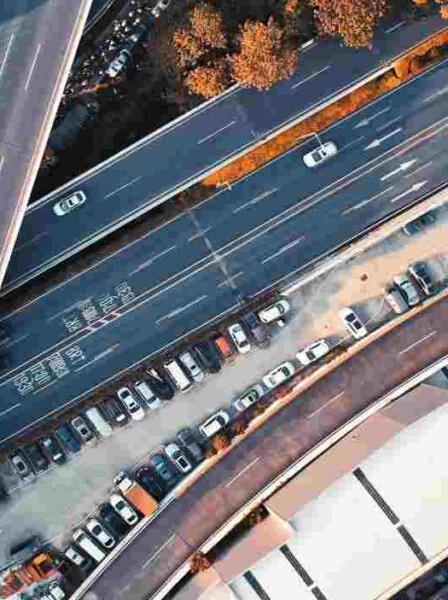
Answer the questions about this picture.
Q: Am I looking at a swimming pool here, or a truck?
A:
truck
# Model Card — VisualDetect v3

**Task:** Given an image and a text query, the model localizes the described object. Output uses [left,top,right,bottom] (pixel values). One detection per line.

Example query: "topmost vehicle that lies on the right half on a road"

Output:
[302,140,338,167]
